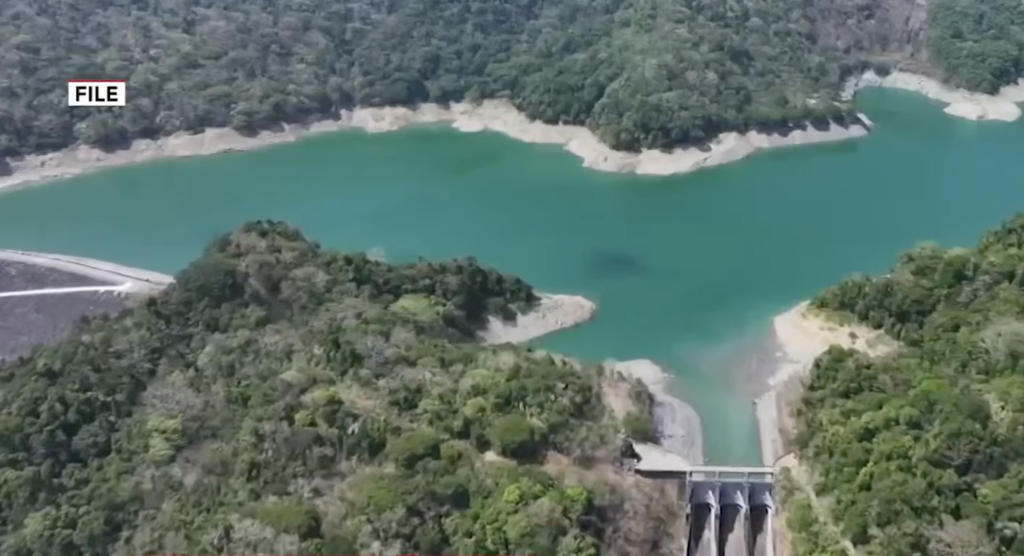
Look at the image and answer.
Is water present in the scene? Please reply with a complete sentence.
Yes, there's water in this view.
